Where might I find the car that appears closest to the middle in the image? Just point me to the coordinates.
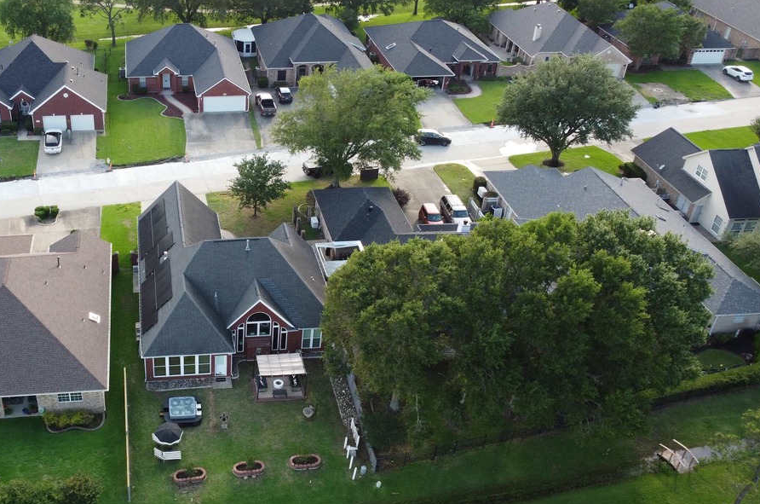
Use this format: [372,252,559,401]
[418,198,447,228]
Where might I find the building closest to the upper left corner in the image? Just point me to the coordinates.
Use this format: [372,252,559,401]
[0,38,109,136]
